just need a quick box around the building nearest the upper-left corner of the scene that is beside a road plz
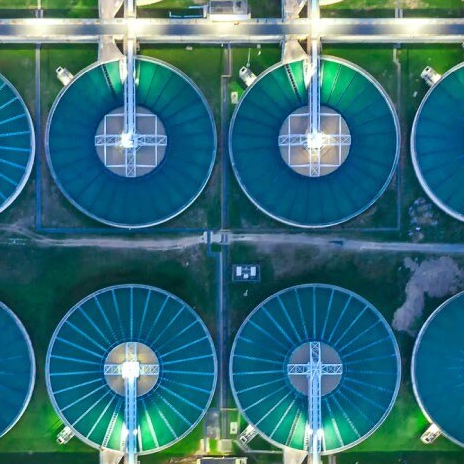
[206,0,251,19]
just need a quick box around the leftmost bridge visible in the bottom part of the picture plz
[123,377,148,464]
